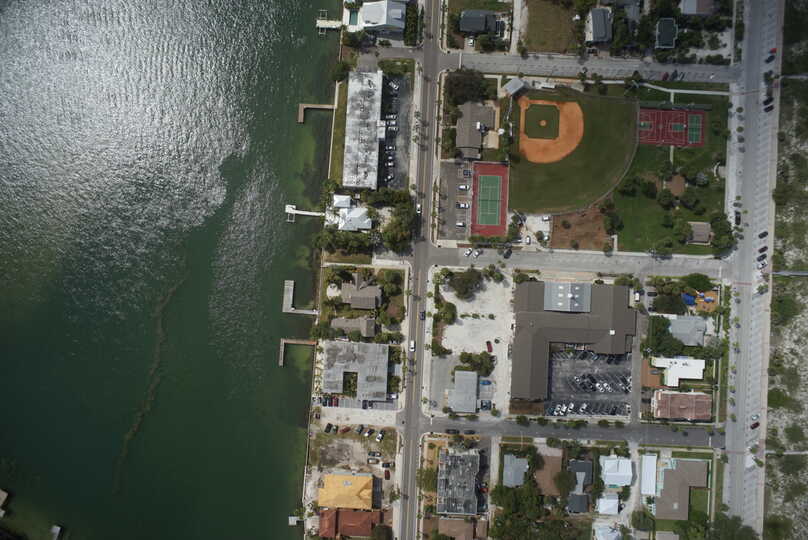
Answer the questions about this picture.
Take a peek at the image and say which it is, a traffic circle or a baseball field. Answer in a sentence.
The image shows a baseball field.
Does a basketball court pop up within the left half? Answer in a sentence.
No, within the left half there is no basketball court.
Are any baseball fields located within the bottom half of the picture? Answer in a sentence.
No, within the bottom half of the picture there is no baseball field.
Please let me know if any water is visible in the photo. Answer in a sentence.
Yes, there's water in this view.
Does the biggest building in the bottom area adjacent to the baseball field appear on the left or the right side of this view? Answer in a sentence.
The biggest building in the bottom area adjacent to the baseball field appears in the right half of the scene.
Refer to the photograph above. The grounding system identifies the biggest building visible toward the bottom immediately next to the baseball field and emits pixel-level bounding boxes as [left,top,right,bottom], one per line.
[510,283,638,402]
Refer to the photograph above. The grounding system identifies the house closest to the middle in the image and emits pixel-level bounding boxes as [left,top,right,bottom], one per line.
[342,272,381,309]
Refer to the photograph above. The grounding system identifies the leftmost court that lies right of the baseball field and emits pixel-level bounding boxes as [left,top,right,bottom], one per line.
[638,109,686,146]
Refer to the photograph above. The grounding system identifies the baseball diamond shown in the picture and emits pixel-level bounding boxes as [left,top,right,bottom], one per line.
[511,88,638,217]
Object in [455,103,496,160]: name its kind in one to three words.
building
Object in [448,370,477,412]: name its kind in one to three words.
building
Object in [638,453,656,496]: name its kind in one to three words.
shed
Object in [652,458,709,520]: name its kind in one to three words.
house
